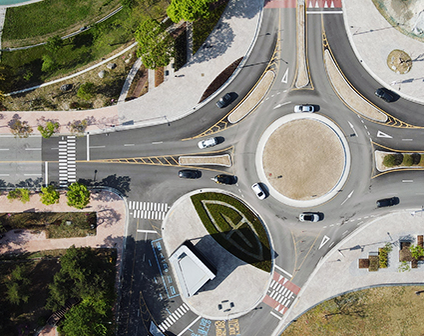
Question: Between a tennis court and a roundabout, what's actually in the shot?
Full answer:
The one in the frame is a roundabout.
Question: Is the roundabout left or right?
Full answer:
You can find the roundabout on the right side of the picture.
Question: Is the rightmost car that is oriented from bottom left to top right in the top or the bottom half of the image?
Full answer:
The rightmost car that is oriented from bottom left to top right is in the top half of the image.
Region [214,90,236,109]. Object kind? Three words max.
car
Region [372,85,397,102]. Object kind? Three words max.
car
